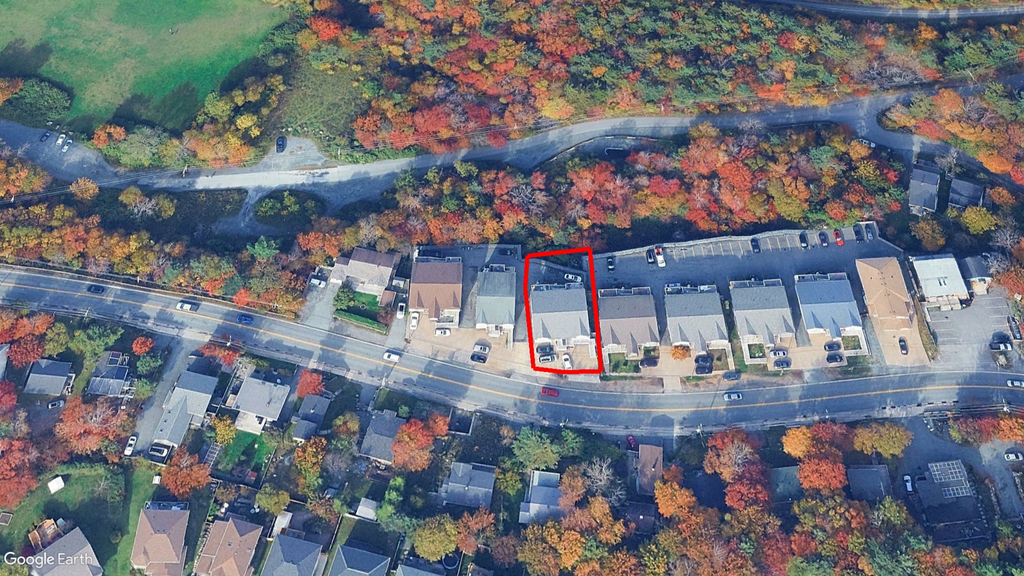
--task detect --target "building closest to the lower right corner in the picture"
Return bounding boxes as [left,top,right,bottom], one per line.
[915,460,988,542]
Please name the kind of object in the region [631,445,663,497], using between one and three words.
house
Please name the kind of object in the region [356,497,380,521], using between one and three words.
shed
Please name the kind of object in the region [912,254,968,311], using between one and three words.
building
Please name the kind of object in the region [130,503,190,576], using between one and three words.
house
